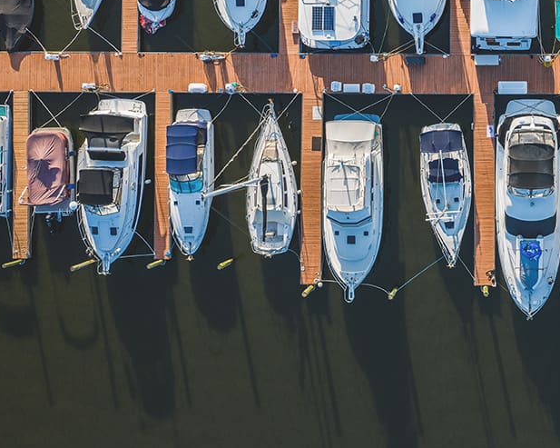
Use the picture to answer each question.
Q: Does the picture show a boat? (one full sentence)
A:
Yes, a boat can be made out from above.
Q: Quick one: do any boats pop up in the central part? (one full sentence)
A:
Yes, looking in the central part, one can make out a boat.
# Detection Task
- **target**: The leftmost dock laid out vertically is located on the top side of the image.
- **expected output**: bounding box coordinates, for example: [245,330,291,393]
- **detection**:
[12,91,32,259]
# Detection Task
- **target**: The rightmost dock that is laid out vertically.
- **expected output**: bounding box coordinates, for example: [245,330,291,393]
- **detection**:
[474,93,496,286]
